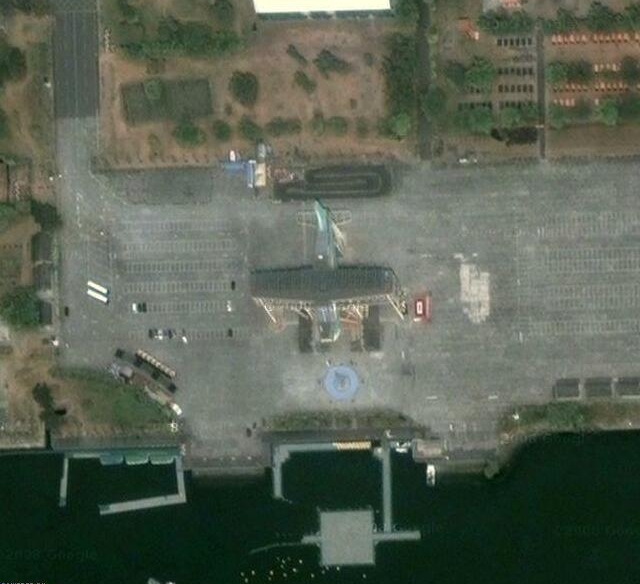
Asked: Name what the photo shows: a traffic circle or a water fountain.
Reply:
water fountain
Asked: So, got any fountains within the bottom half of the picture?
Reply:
Yes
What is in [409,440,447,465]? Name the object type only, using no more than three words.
building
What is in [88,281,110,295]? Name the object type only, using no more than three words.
vehicle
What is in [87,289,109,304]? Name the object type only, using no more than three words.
vehicle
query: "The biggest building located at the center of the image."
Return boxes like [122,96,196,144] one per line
[251,202,406,352]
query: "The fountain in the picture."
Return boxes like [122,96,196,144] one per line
[322,364,359,400]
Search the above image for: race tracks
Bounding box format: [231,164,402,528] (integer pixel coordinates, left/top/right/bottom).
[274,164,392,198]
